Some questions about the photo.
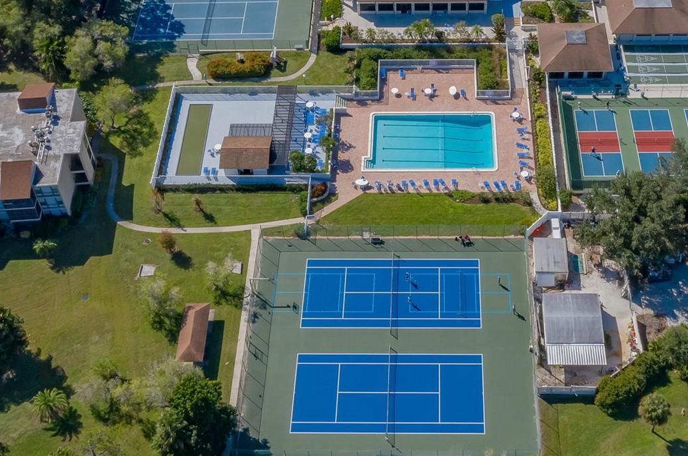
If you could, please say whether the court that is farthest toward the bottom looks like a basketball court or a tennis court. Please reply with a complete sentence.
Specifically, the court that is farthest toward the bottom is a tennis court.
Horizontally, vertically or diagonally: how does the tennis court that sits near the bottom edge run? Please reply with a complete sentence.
In this picture, the tennis court that sits near the bottom edge is oriented horizontally.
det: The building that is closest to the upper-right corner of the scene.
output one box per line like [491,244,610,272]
[606,0,688,44]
